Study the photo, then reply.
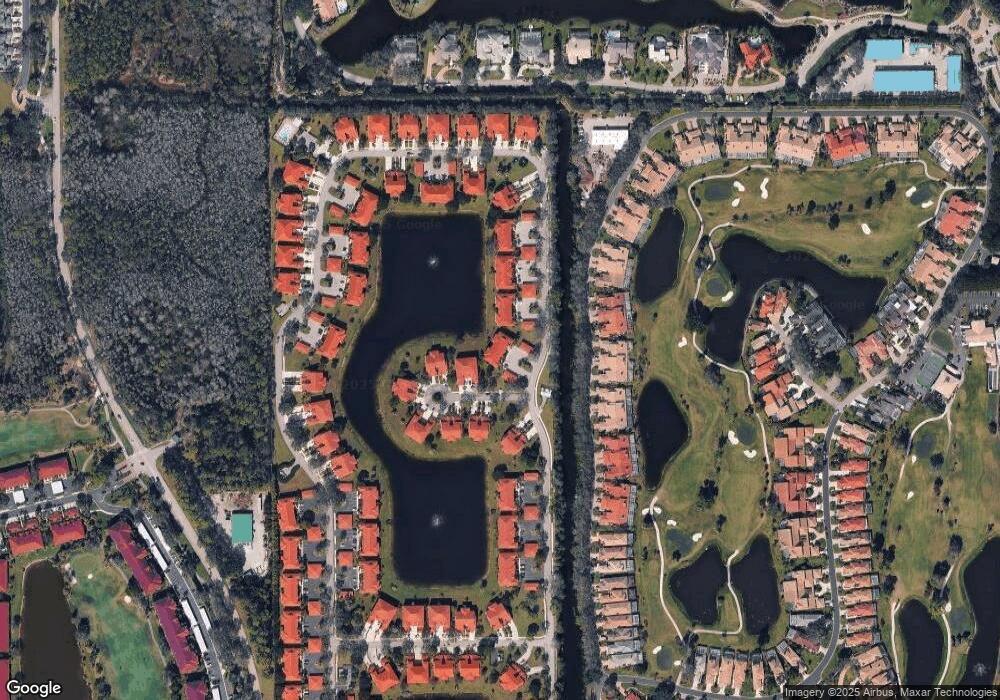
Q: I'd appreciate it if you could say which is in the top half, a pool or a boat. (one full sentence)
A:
The feature located in the top half is a pool.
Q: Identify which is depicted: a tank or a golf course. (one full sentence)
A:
It is a golf course that can be seen here.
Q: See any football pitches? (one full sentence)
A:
No, there is no football pitch in the image.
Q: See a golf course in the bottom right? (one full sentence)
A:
Yes, a golf course is visible in the bottom right.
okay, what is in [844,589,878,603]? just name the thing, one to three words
house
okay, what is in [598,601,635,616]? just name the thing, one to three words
house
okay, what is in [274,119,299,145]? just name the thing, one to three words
swimming pool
